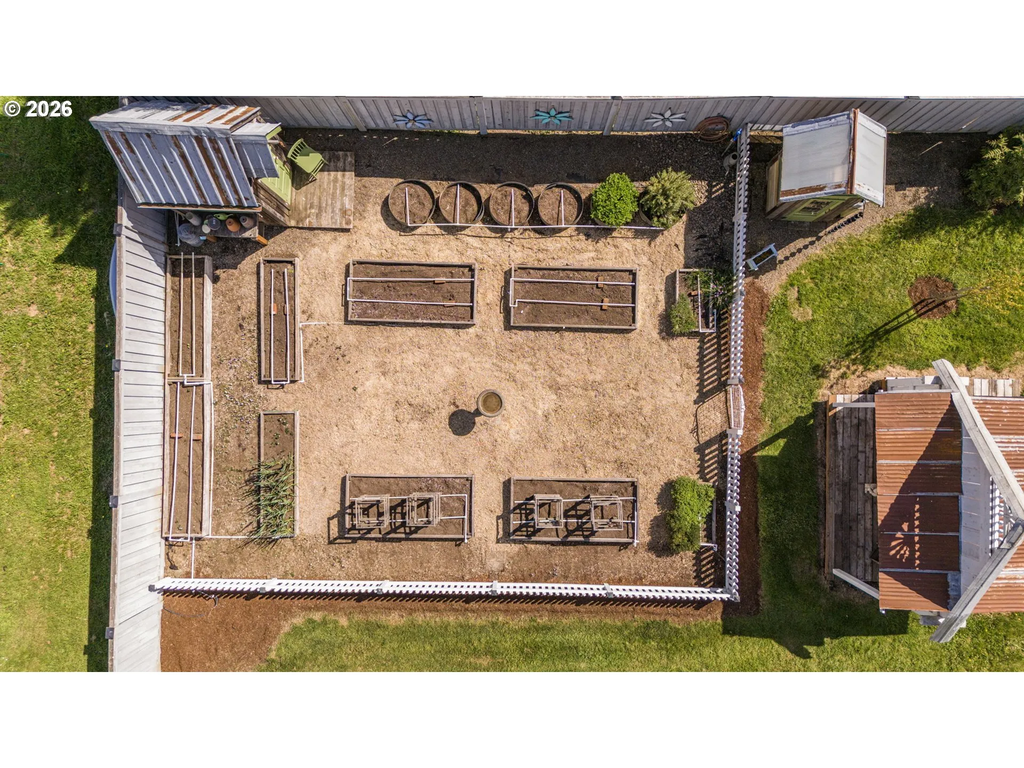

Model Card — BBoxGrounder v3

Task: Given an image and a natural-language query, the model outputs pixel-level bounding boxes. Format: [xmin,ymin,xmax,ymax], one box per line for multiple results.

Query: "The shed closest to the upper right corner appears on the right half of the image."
[766,107,887,219]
